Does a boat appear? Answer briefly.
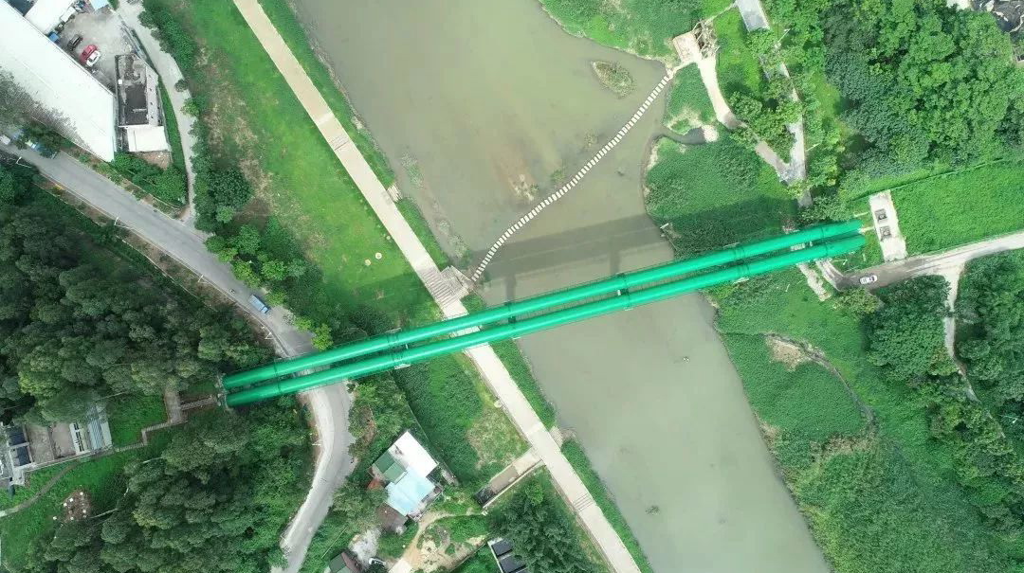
No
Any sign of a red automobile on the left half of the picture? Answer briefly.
Yes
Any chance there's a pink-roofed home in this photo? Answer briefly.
No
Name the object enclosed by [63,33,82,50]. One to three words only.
vehicle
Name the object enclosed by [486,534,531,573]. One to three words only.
house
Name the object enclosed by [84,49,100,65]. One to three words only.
car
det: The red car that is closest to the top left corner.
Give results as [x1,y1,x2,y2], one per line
[76,44,95,62]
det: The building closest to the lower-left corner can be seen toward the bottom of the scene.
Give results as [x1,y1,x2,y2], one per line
[87,404,116,450]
